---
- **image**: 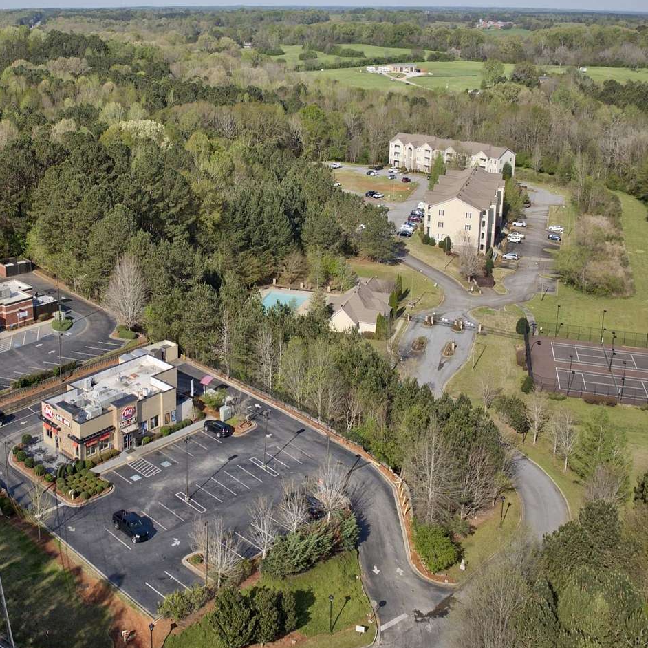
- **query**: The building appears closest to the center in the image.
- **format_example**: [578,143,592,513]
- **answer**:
[321,282,386,334]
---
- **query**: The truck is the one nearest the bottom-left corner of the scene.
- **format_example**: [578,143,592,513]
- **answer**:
[114,506,148,537]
